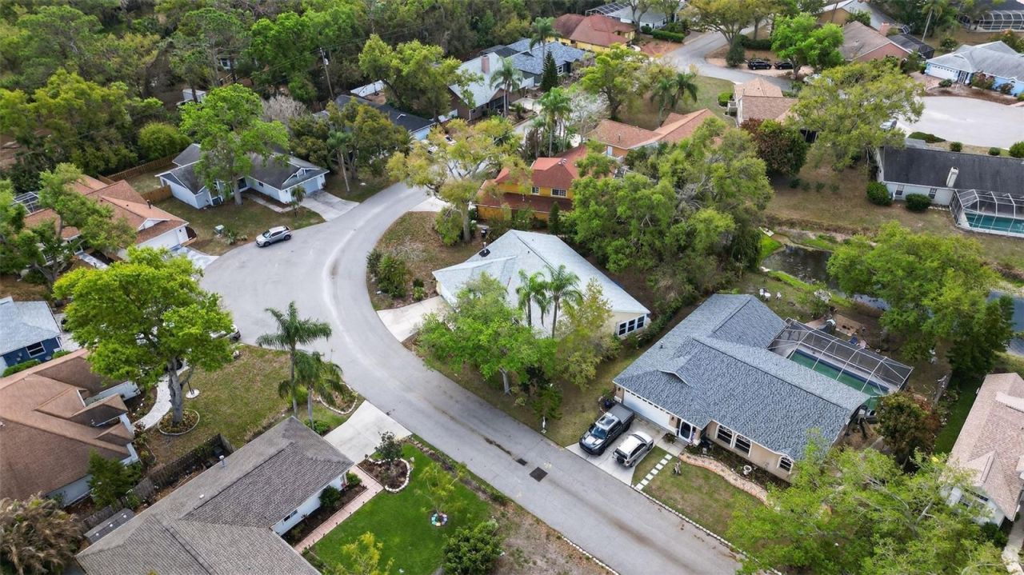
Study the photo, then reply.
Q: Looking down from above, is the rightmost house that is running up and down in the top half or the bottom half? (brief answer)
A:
bottom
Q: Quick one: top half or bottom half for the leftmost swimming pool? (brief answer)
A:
bottom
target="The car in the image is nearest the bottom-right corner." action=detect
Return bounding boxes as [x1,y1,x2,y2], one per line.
[611,421,658,462]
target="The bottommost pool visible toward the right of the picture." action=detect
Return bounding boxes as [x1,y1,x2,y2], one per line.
[785,343,895,419]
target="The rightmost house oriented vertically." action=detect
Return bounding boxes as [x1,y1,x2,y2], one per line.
[944,374,1024,552]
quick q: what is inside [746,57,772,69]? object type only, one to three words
vehicle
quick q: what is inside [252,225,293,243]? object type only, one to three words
car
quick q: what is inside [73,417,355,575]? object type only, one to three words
house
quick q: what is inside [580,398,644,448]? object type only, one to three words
truck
